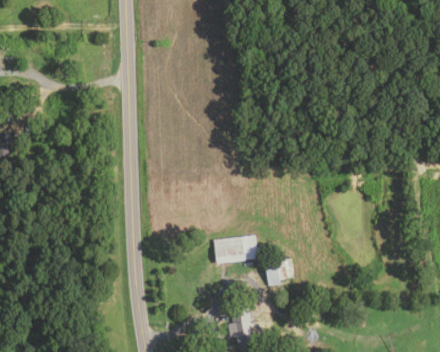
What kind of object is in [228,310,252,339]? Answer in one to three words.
house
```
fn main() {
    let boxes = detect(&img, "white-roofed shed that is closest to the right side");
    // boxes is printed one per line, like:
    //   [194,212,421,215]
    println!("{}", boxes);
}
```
[268,259,295,288]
